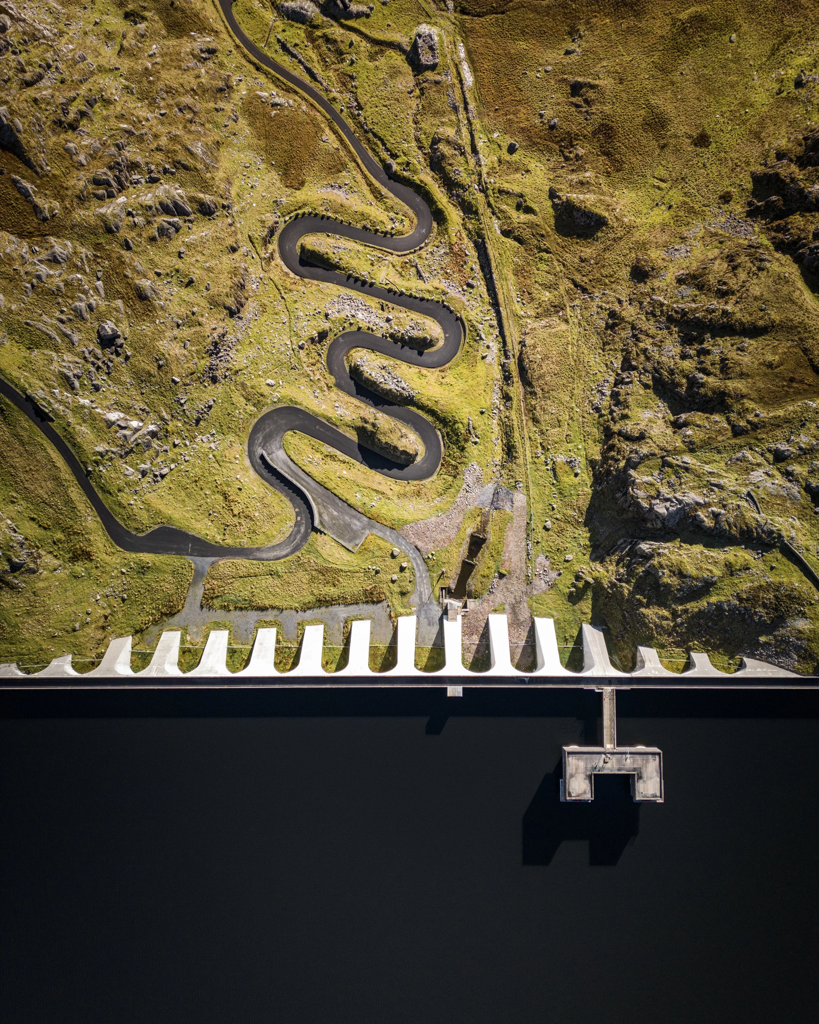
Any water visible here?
Yes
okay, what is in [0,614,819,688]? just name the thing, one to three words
dam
